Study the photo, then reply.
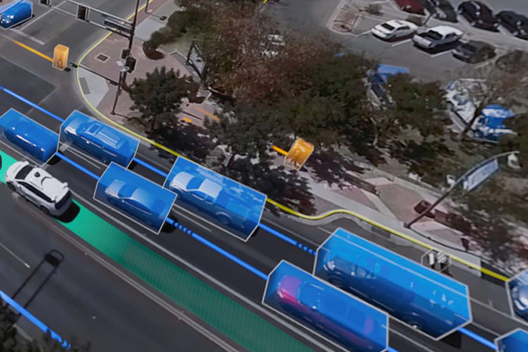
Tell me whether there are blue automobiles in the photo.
Yes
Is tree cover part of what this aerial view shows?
Yes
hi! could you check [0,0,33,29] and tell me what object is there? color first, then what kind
blue car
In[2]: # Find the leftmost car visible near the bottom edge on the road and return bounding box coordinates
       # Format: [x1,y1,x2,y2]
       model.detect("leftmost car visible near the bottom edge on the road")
[277,282,386,352]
